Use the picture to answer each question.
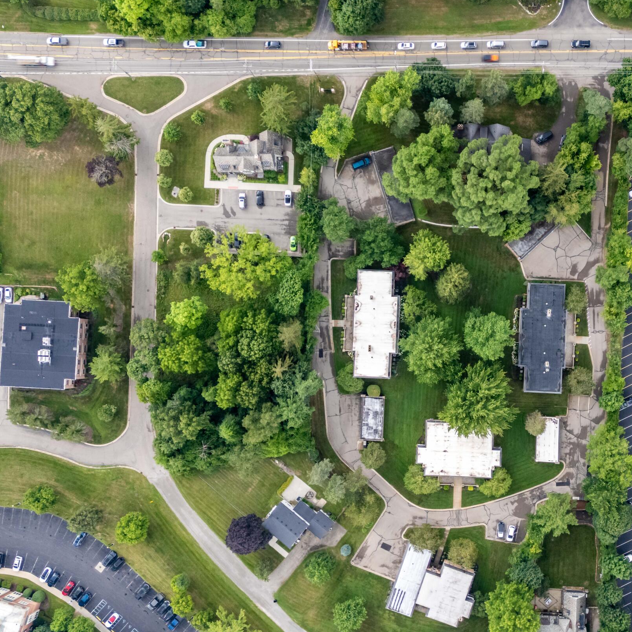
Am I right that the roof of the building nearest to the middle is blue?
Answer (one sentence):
No, the color of the roof of the building nearest to the middle is white.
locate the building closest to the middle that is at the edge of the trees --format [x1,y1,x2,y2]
[352,269,401,379]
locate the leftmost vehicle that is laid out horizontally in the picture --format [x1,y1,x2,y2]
[0,50,55,65]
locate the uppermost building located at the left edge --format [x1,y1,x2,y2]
[0,300,89,390]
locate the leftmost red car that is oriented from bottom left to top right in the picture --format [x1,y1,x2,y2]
[60,581,75,597]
